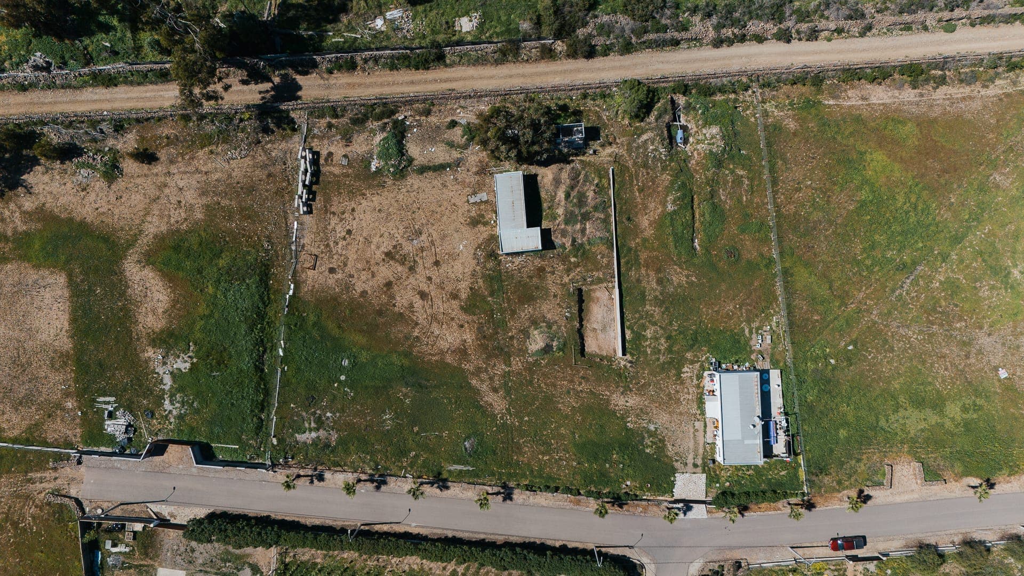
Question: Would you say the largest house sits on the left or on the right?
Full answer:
It is on the right.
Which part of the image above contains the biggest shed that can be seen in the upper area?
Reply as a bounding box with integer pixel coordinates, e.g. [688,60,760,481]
[495,171,542,254]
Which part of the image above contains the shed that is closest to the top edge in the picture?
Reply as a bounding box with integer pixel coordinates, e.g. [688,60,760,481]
[553,123,585,151]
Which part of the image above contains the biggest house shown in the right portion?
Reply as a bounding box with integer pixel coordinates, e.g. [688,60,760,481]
[712,369,765,466]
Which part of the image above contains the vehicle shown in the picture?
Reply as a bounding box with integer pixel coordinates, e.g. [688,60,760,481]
[829,536,867,554]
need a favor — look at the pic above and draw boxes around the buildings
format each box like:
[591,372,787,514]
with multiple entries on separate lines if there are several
[712,369,765,466]
[553,123,585,151]
[495,171,542,254]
